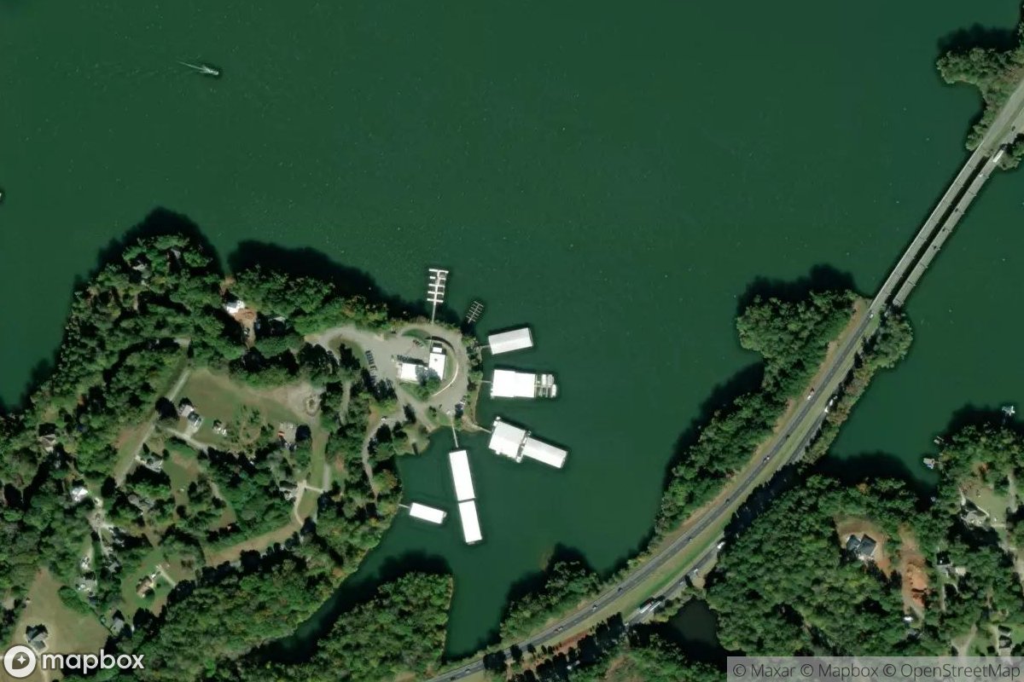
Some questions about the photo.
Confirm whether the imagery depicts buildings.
Yes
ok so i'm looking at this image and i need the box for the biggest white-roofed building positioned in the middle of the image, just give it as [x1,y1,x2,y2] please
[397,347,446,383]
